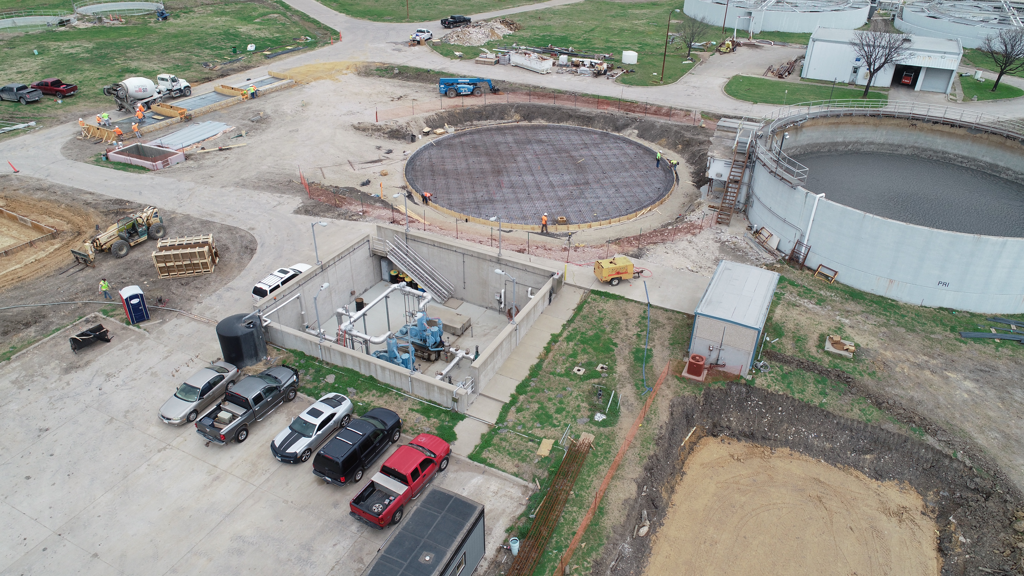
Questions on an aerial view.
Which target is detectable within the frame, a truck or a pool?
truck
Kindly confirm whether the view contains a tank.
Yes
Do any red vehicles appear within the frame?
Yes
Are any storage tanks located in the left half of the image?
Yes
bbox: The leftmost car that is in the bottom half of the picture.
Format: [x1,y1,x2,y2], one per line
[151,360,243,431]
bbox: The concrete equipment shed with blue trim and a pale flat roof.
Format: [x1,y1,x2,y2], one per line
[689,265,779,372]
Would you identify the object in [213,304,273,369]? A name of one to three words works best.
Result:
storage tank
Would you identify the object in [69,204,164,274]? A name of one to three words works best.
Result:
work vehicle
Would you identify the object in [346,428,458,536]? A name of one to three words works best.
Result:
truck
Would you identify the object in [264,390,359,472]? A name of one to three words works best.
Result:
car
